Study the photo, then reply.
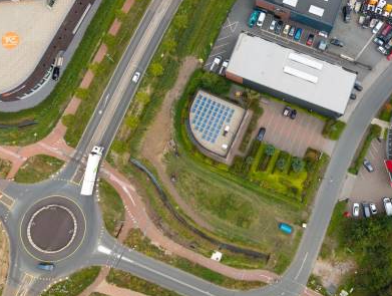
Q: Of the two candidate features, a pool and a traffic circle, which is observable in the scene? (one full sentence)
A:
There is a traffic circle in the scene.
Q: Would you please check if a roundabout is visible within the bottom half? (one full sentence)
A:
Yes, within the bottom half there is a roundabout.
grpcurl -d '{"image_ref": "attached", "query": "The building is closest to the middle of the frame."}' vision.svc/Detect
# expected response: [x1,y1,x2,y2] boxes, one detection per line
[190,89,246,156]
